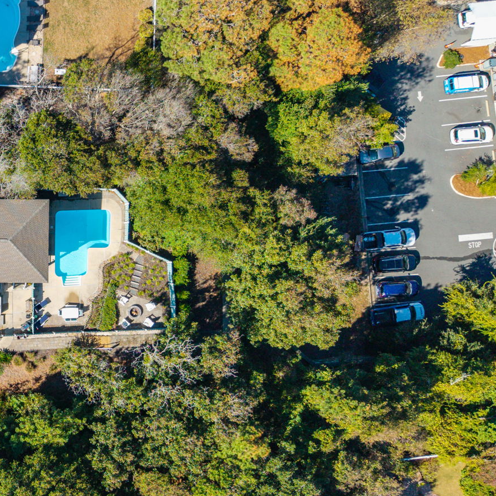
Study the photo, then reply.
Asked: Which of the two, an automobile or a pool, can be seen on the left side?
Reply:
pool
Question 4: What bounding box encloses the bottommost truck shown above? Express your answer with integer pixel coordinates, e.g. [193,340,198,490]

[371,304,429,326]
